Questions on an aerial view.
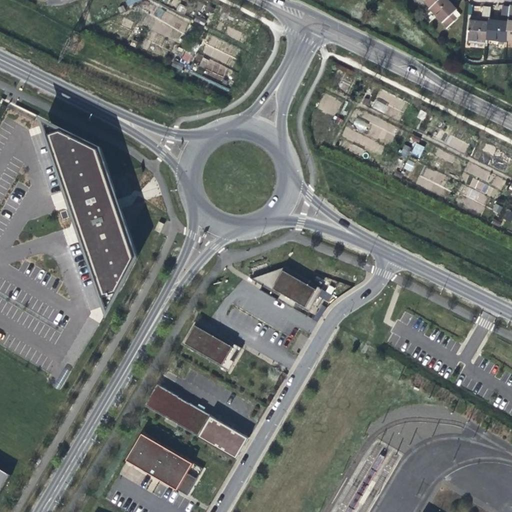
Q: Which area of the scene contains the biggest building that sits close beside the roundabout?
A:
left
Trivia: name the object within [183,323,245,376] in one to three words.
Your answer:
building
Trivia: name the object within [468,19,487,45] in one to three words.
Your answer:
house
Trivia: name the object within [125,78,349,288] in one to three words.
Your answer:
roundabout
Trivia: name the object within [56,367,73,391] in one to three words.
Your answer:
vehicle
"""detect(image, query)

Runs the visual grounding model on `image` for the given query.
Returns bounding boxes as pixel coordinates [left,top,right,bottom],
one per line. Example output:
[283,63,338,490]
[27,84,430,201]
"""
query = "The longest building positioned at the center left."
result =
[36,115,134,322]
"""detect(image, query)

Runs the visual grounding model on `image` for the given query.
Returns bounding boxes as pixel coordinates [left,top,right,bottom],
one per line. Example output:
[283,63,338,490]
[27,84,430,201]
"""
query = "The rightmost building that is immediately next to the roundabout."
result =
[252,268,332,322]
